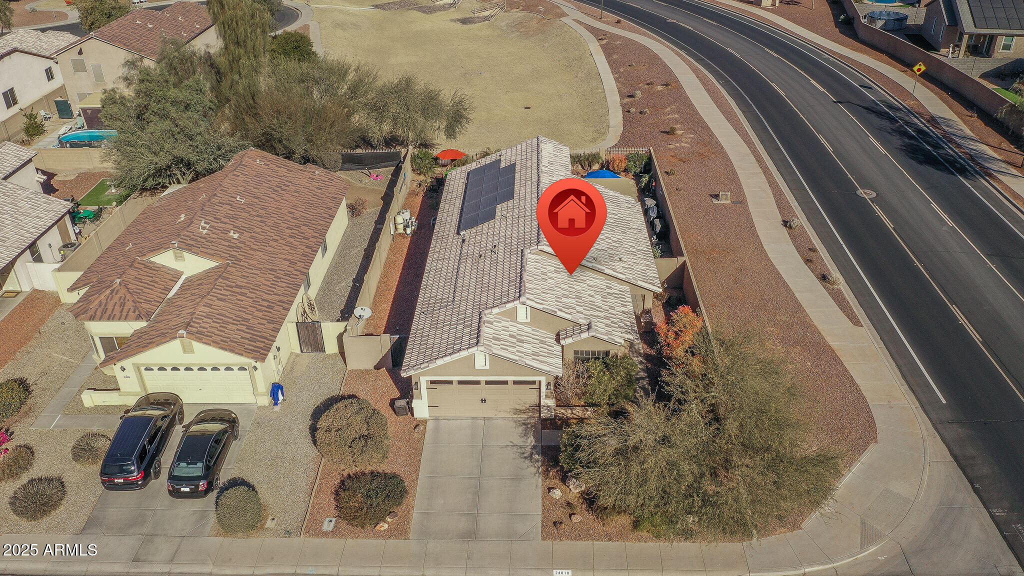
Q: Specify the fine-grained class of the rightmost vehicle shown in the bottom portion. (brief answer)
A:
automobile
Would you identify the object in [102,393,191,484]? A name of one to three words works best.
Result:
car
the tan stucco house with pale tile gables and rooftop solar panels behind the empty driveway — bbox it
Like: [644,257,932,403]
[399,132,663,420]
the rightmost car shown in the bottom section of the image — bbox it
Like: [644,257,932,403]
[163,409,243,490]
